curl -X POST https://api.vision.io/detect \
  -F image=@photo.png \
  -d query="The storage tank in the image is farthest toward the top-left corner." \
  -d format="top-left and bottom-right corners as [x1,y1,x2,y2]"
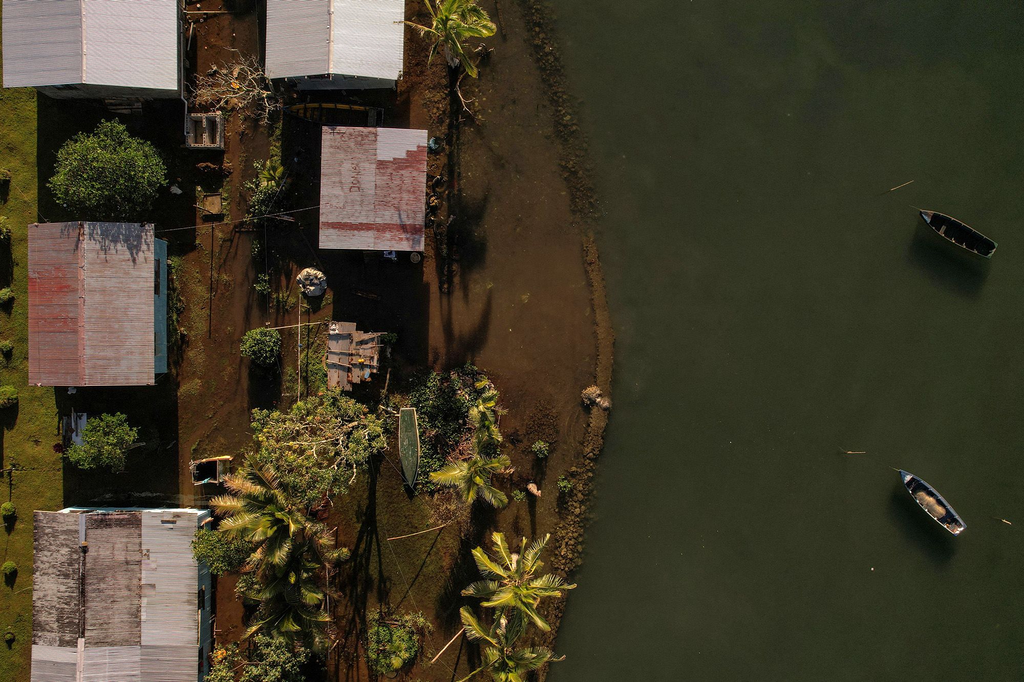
[185,113,228,150]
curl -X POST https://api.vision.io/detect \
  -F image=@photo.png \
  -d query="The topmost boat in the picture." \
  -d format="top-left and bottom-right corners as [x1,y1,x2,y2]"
[284,99,385,128]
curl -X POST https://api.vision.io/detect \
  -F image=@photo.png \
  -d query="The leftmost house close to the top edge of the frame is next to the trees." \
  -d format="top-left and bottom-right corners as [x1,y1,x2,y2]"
[3,0,194,136]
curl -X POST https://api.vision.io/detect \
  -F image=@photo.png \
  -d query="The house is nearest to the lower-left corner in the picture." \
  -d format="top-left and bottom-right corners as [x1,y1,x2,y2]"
[32,507,209,682]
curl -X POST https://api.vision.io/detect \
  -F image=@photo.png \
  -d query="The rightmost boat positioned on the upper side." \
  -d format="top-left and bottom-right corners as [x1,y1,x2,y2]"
[915,209,998,258]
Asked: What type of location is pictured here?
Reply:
residential area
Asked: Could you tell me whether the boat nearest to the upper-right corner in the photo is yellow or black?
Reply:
black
